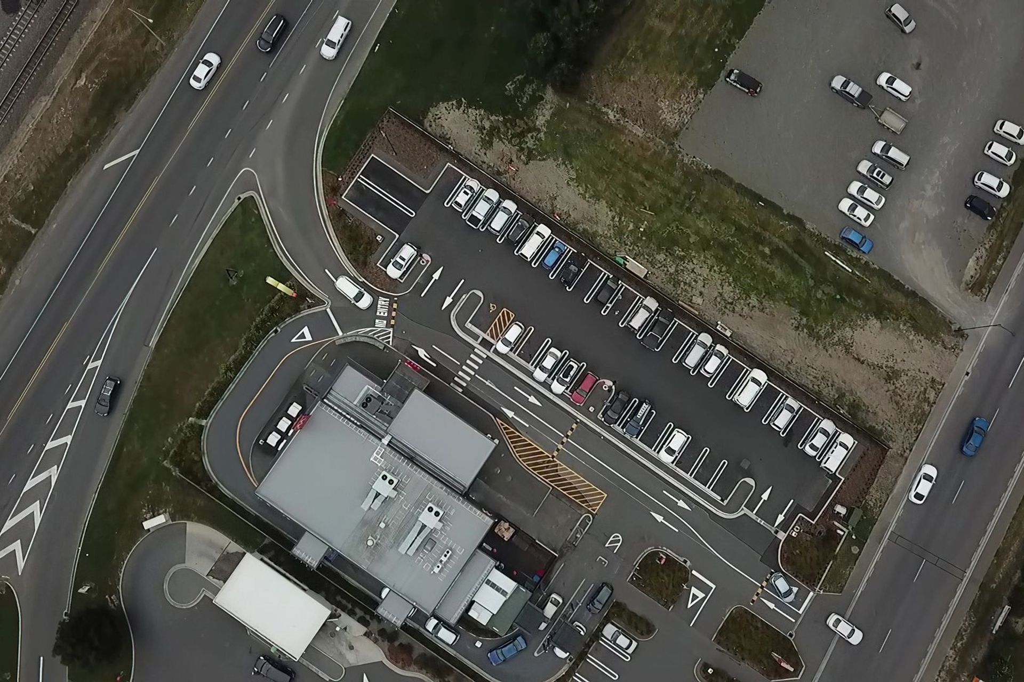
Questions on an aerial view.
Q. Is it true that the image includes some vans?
Yes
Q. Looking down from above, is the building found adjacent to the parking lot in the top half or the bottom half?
bottom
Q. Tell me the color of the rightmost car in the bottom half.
blue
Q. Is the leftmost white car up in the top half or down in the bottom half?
top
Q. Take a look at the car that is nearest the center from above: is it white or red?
white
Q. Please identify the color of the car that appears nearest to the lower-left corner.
black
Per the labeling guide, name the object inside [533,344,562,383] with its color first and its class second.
white car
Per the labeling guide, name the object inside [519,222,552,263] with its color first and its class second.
white van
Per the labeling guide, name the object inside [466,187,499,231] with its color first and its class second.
white truck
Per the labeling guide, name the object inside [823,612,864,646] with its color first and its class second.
white car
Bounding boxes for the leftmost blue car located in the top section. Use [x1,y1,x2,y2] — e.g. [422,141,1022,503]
[540,240,566,272]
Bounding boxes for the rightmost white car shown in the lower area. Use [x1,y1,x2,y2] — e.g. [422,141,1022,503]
[906,462,936,506]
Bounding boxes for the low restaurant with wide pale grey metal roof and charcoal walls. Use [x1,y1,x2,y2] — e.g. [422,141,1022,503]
[255,360,498,629]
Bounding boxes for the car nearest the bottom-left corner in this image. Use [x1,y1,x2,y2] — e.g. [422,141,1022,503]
[254,654,296,682]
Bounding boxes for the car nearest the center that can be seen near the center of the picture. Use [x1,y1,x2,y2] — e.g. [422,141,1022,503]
[496,319,525,355]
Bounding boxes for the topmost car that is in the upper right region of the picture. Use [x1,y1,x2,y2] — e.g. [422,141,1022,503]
[881,2,916,36]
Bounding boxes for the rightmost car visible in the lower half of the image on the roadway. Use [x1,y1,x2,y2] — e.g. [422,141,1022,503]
[959,416,988,459]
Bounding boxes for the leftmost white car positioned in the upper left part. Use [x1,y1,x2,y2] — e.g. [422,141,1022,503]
[190,51,222,93]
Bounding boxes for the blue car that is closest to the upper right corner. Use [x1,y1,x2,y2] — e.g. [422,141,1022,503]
[836,225,875,255]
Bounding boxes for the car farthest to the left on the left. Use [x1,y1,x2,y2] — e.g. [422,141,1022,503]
[95,375,123,416]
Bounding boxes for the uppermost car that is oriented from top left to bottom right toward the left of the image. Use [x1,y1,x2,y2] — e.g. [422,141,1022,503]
[335,274,374,310]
